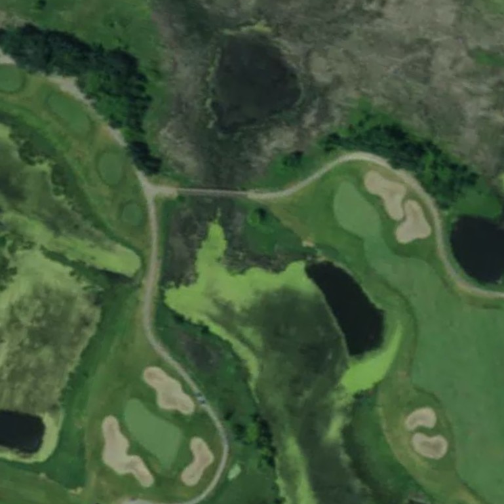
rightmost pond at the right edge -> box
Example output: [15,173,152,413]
[452,173,504,283]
